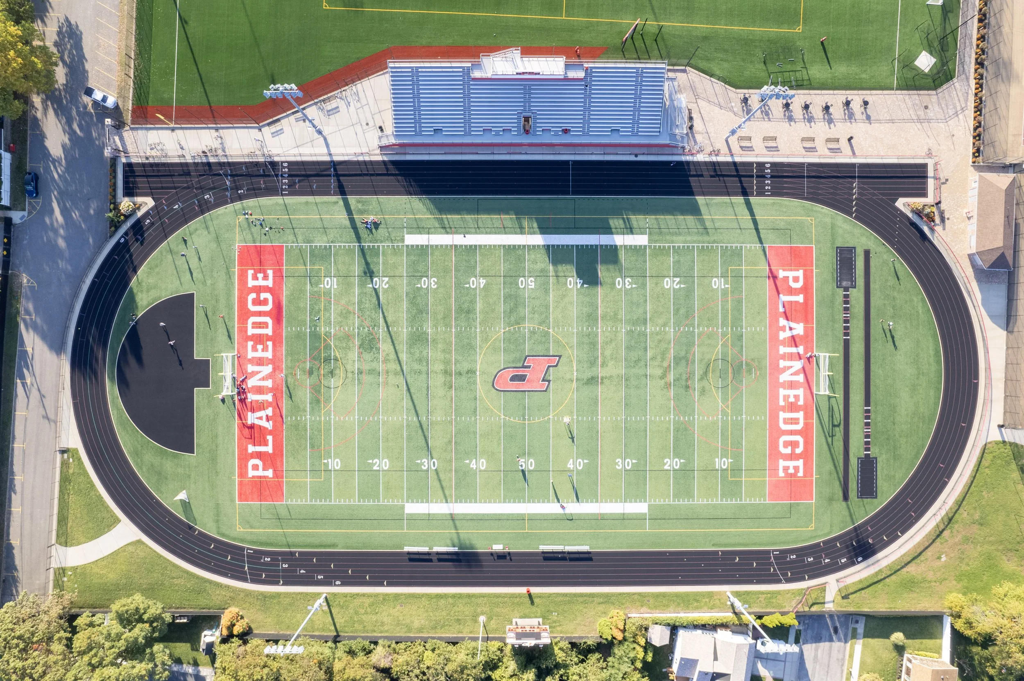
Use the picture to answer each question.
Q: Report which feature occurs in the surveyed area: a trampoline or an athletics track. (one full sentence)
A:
The image shows an athletics track.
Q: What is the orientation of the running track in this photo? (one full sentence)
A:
From this overhead view, the running track appears to run from left to right.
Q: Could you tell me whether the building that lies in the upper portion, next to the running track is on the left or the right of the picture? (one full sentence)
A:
You can find the building that lies in the upper portion, next to the running track on the right side of the picture.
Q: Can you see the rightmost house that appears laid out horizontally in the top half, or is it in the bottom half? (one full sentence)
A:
It is in the bottom half that the rightmost house that appears laid out horizontally appears.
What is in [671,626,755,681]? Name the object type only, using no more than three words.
house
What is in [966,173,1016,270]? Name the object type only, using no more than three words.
building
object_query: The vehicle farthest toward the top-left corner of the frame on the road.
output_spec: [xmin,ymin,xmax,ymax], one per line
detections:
[80,84,113,108]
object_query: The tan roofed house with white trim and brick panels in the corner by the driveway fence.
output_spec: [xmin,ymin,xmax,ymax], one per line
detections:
[898,651,958,681]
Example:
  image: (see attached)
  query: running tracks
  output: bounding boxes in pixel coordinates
[71,160,979,587]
